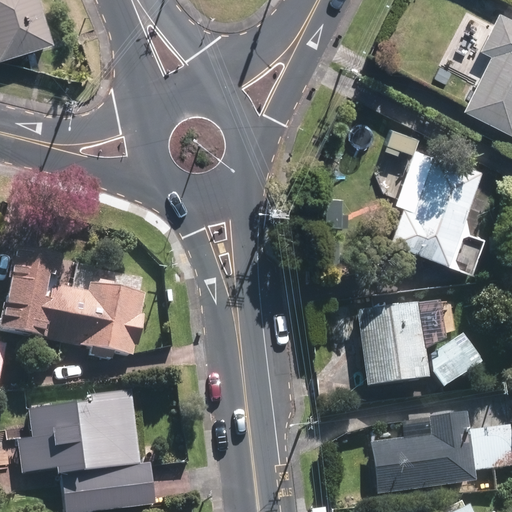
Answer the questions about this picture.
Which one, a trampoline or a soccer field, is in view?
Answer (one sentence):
Of the two, only a trampoline appears.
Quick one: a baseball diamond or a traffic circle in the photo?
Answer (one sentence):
This aerial view contains a traffic circle.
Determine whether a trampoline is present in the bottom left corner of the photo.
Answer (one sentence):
No, there's no trampoline to be seen in the bottom left corner of the photo.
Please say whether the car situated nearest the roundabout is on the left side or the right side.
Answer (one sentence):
It is on the left.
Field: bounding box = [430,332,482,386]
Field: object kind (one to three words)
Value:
shed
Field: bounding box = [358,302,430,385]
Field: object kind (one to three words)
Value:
house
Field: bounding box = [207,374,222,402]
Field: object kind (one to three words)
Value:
car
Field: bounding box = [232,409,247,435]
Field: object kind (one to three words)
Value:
car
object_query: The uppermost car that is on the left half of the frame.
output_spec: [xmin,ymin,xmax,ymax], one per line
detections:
[168,191,188,218]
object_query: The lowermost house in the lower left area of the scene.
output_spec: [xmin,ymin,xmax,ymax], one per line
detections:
[17,390,156,512]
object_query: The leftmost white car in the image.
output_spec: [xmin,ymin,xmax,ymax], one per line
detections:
[54,365,82,380]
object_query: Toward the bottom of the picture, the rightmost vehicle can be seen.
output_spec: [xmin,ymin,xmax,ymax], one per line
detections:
[274,315,290,345]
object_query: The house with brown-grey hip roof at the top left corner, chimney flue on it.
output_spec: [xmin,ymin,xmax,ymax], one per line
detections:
[0,0,54,63]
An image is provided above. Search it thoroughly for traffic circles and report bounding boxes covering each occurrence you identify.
[168,116,225,174]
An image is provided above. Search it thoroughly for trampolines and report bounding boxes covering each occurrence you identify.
[349,126,375,154]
